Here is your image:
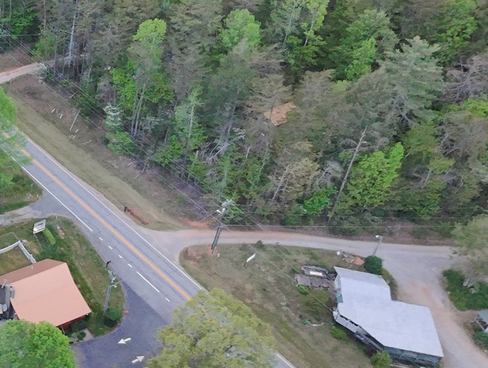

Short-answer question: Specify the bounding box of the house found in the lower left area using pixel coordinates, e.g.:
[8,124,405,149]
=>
[0,261,91,337]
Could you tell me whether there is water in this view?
No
